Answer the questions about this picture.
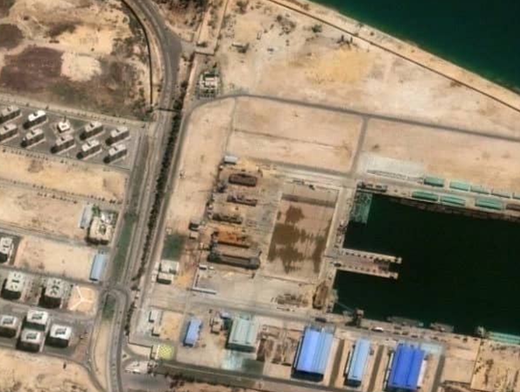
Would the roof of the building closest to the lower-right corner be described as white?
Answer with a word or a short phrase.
No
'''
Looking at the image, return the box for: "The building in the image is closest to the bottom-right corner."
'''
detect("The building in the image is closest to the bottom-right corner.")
[387,343,428,392]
